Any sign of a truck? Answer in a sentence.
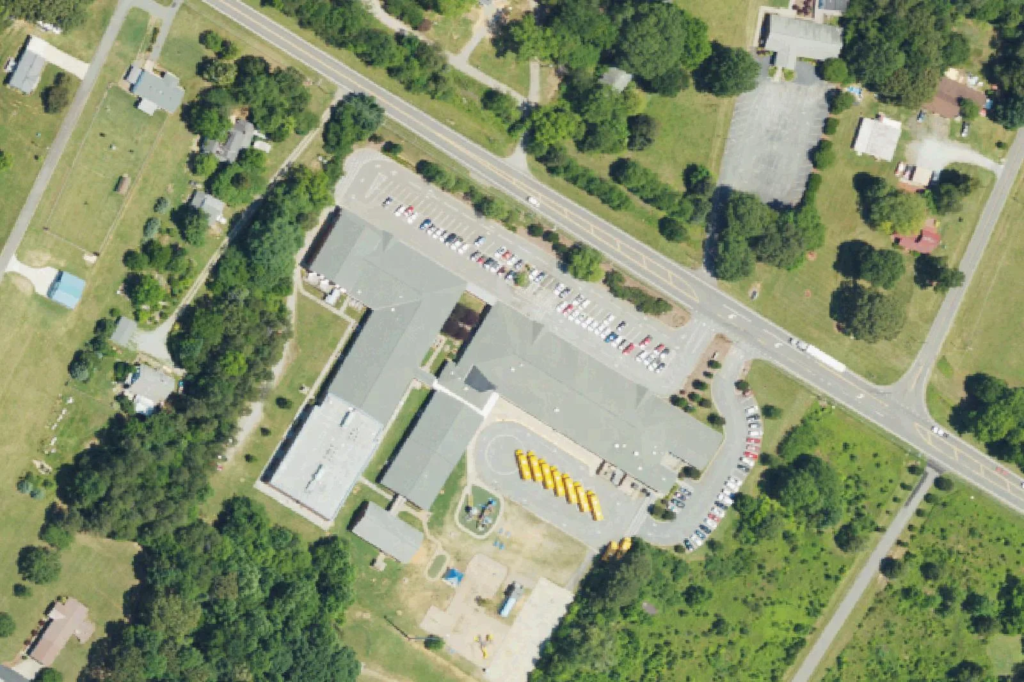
Yes, the image includes a truck.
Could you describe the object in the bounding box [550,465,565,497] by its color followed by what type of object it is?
yellow vehicle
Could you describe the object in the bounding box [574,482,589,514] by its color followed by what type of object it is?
yellow vehicle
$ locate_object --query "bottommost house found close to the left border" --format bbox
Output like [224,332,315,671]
[31,594,97,663]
